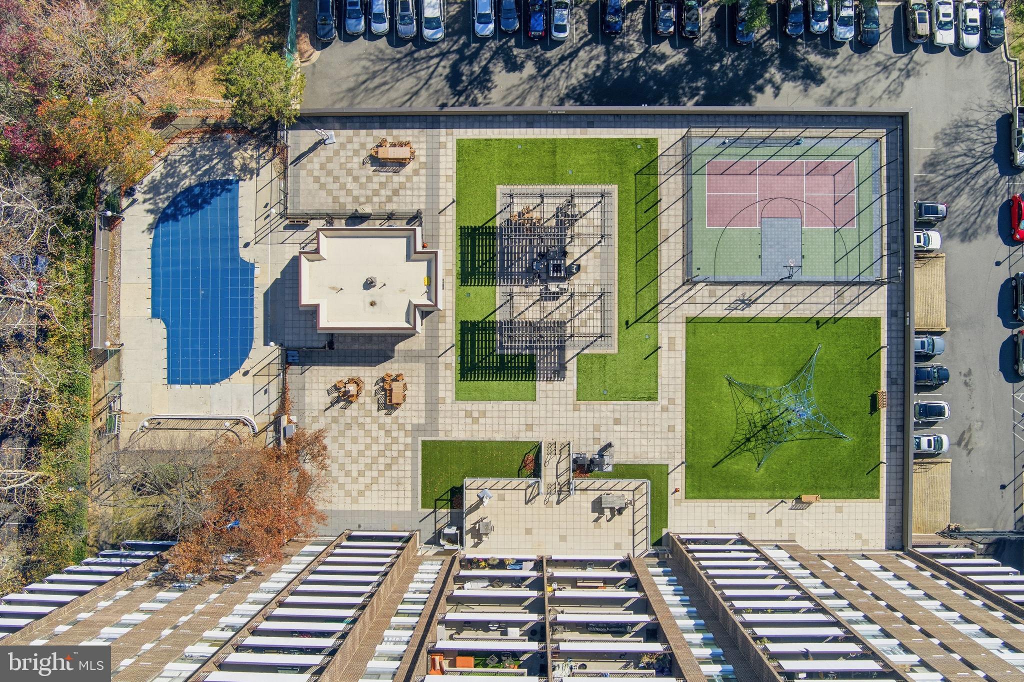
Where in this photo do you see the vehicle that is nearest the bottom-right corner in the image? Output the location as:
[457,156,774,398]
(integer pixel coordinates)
[914,432,949,455]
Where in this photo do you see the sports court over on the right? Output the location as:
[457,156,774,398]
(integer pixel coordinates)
[688,138,881,283]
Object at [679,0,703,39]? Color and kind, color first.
black car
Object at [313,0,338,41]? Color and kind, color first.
black car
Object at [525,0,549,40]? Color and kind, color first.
blue car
